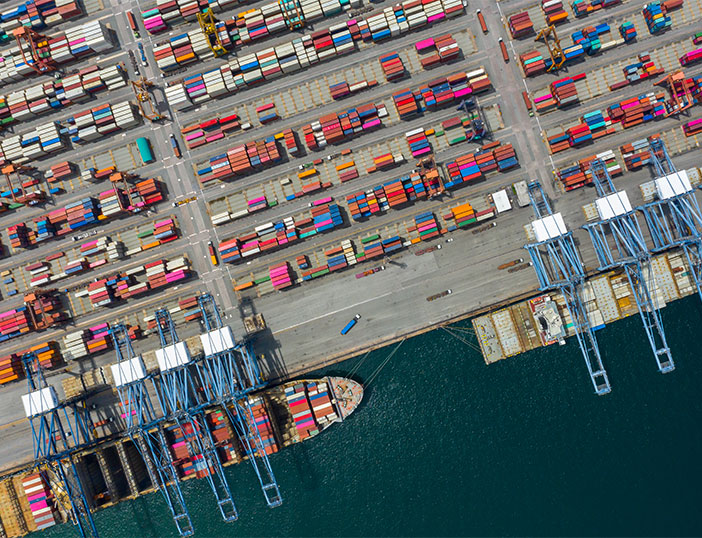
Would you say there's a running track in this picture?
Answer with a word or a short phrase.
No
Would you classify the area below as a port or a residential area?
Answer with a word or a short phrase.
port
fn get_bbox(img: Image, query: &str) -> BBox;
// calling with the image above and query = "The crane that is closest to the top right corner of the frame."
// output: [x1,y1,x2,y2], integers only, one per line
[653,68,694,117]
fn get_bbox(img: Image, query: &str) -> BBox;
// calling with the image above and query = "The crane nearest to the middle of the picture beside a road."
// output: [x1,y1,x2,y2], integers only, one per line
[414,153,446,199]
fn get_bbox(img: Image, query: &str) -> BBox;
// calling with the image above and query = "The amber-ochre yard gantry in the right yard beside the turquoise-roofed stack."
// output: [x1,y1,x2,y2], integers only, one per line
[531,21,568,74]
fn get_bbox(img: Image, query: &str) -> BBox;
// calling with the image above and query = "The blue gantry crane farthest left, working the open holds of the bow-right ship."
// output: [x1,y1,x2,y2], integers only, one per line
[21,353,105,538]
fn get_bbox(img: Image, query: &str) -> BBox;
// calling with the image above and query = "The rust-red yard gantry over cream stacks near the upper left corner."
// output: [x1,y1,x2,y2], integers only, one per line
[10,27,54,77]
